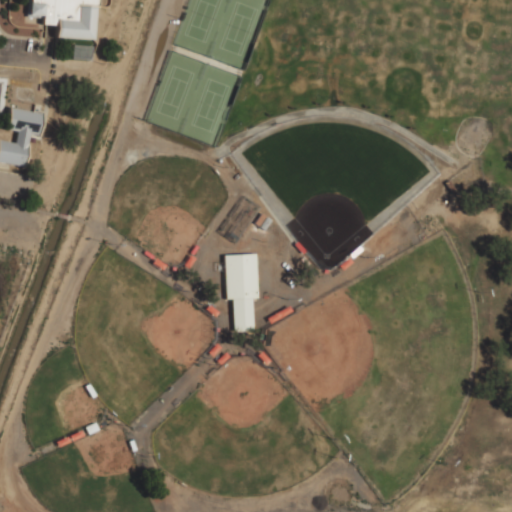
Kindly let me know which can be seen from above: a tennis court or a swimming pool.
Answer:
tennis court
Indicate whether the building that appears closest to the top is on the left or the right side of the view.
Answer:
left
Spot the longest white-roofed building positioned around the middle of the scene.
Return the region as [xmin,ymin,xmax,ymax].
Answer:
[223,254,259,331]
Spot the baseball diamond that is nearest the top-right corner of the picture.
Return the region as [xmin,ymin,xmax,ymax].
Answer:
[226,114,441,269]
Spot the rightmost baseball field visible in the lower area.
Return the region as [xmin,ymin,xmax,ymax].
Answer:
[264,231,474,502]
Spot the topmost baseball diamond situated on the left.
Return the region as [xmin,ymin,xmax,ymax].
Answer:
[107,156,228,271]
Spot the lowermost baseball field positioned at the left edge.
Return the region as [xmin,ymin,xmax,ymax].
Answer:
[20,424,153,512]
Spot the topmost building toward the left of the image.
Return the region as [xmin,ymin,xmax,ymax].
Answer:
[32,0,98,40]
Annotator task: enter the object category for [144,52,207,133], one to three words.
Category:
tennis court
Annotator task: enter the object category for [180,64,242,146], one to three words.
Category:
tennis court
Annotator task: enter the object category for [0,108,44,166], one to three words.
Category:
building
